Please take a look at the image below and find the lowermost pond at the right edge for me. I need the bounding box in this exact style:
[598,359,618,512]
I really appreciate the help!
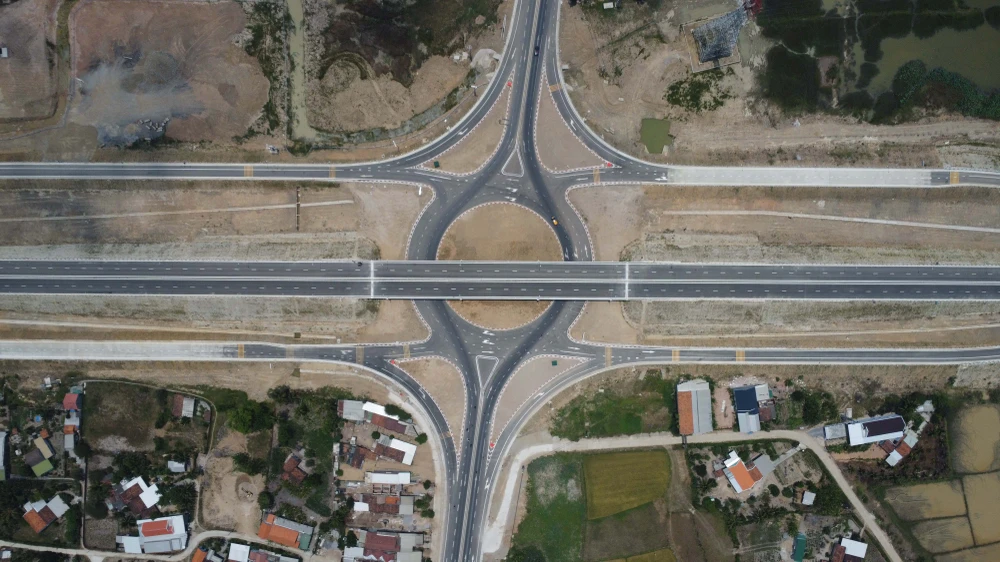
[871,25,1000,96]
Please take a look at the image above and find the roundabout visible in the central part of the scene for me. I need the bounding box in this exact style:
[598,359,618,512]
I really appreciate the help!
[384,164,605,388]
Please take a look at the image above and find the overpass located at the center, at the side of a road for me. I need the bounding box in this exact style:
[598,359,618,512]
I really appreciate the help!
[371,260,628,300]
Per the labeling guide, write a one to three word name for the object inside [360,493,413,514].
house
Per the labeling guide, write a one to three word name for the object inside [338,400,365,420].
house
